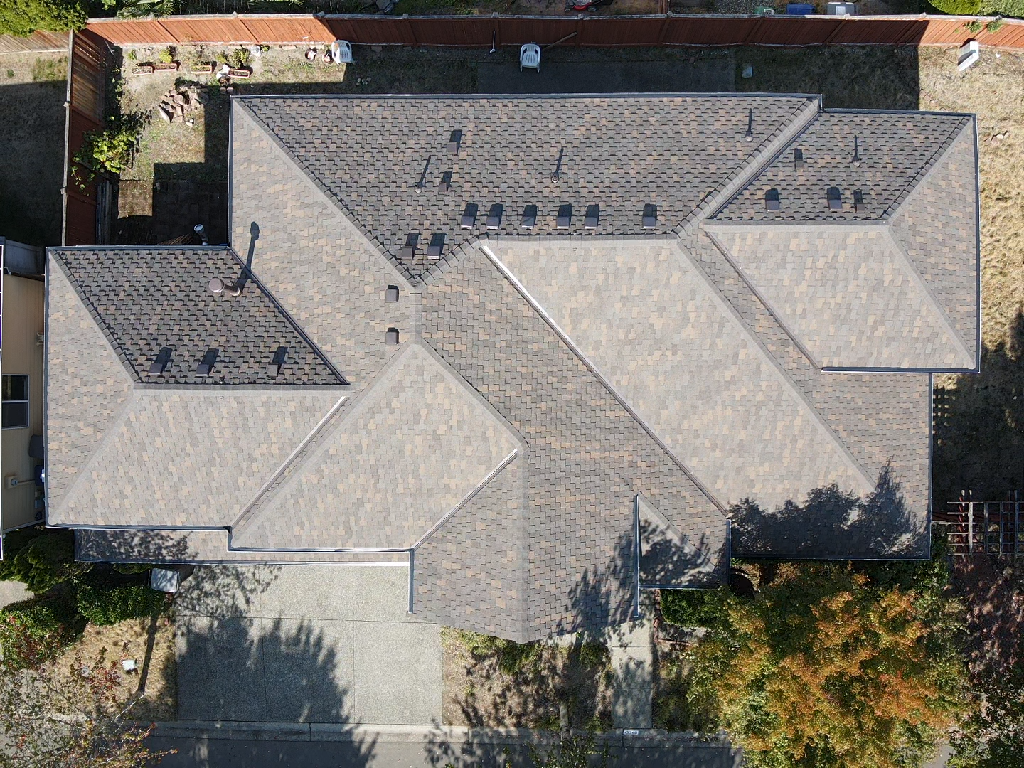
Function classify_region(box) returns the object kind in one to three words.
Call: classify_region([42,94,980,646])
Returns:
house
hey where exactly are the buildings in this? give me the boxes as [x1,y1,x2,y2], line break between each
[42,94,980,646]
[0,246,44,564]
